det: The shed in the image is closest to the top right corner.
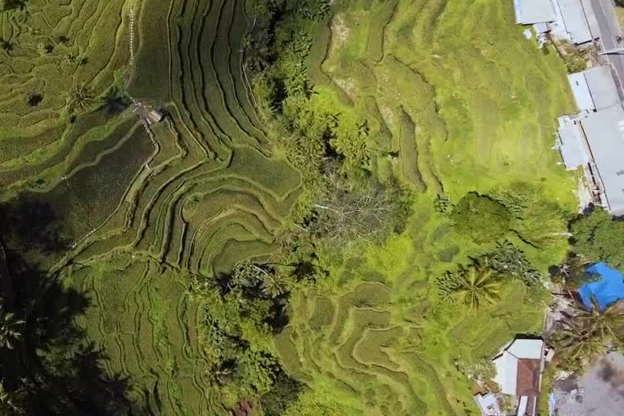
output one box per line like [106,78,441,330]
[550,0,601,44]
